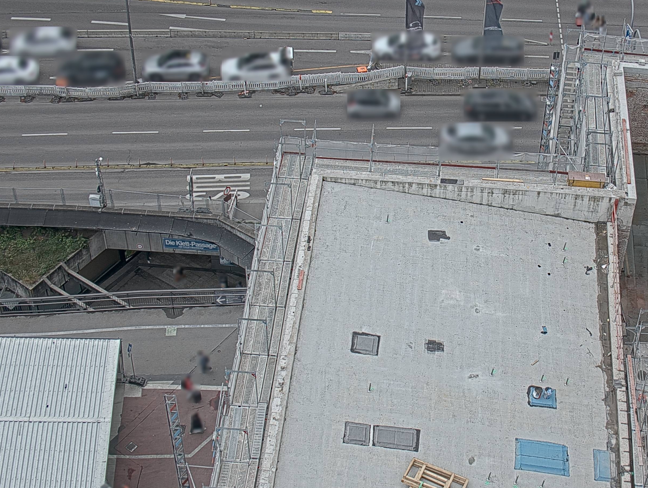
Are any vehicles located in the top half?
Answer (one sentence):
Yes, you'll find a vehicle in the top half.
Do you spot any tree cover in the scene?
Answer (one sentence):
No, the picture contains no tree cover.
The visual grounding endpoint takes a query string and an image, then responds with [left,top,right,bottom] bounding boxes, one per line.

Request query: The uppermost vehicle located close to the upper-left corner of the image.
[7,24,78,54]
